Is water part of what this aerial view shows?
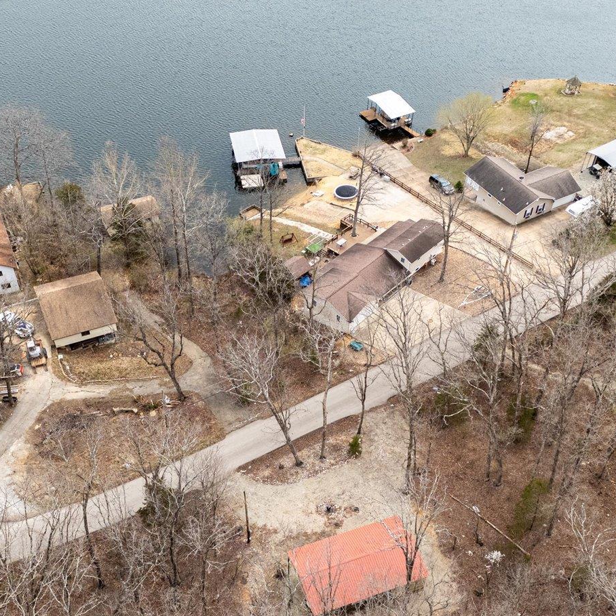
Yes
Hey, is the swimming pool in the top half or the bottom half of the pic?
top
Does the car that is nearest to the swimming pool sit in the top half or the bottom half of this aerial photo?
top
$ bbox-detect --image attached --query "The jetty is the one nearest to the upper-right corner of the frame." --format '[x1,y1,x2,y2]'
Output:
[359,91,422,139]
